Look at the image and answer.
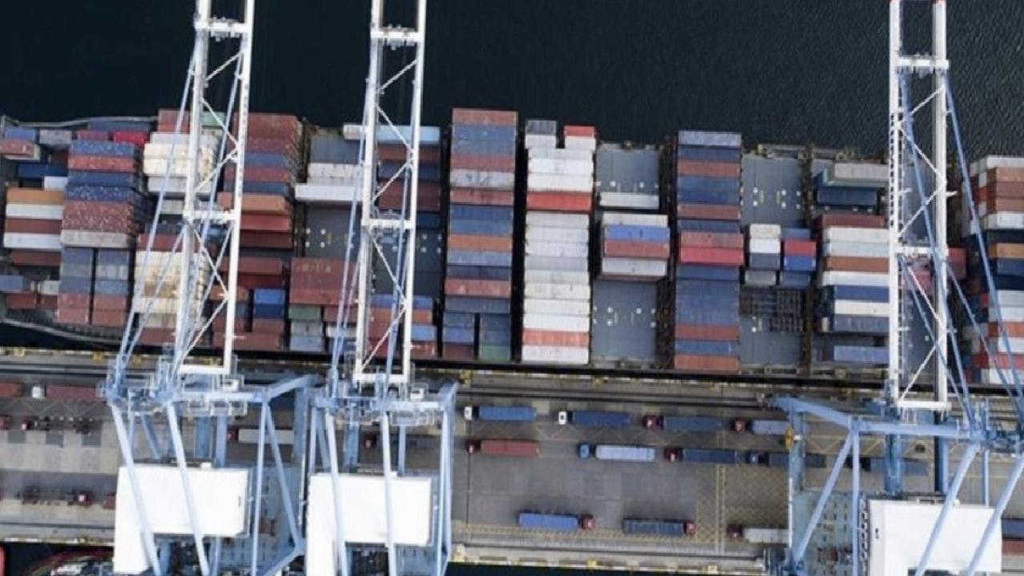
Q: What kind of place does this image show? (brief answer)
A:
port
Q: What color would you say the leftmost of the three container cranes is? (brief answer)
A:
white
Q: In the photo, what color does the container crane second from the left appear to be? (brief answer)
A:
white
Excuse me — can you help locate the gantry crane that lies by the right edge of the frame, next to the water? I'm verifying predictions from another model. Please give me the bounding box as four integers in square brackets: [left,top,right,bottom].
[751,0,1024,576]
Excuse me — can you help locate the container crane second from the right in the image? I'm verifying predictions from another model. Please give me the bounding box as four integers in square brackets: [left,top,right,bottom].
[293,0,476,576]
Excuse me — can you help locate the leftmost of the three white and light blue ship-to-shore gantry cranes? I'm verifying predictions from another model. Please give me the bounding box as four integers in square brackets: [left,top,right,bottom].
[103,0,329,576]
